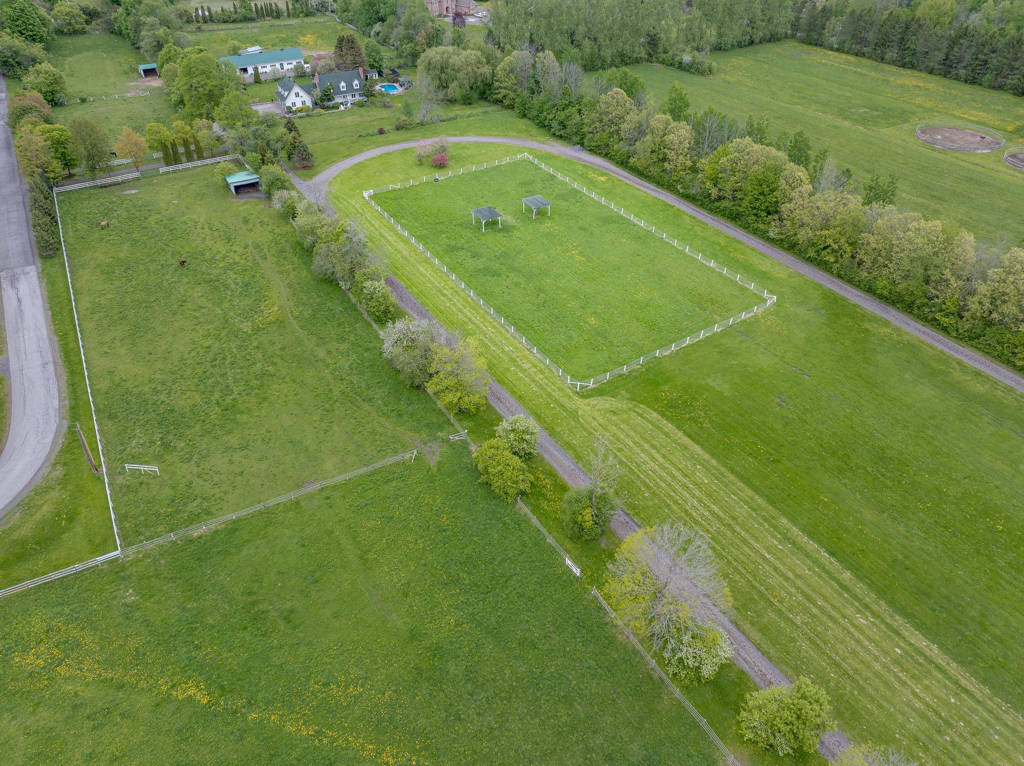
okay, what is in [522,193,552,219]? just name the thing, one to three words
building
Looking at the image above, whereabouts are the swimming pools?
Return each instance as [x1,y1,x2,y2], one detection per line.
[374,82,413,95]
